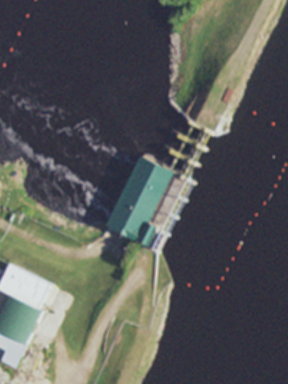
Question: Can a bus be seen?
No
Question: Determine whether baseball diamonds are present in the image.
No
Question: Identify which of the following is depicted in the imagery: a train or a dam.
dam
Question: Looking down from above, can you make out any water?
Yes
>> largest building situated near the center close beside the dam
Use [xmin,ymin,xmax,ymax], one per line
[108,157,174,242]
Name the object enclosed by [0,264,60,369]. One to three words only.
building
